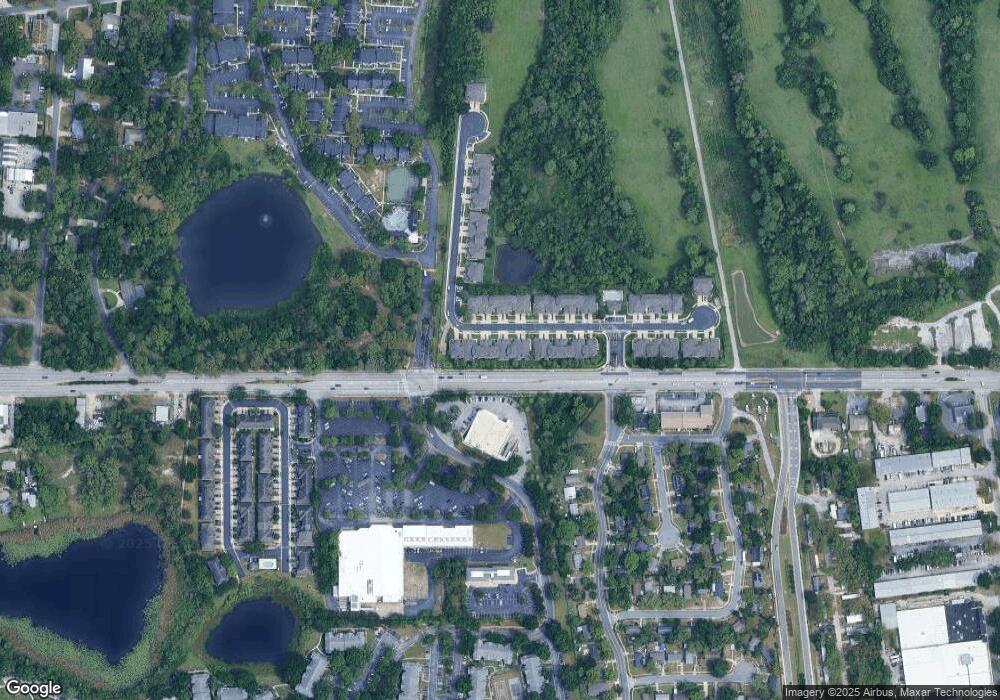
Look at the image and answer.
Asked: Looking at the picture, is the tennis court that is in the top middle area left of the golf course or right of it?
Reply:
left of it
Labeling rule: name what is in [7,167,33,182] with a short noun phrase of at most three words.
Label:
building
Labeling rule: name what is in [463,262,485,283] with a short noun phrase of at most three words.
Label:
house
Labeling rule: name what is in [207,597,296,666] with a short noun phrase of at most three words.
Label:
pond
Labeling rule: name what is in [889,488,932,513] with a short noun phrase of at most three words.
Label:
building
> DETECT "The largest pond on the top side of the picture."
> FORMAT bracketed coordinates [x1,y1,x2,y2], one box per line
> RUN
[494,243,541,284]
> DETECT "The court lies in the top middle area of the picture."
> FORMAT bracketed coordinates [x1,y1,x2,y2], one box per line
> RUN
[388,167,407,201]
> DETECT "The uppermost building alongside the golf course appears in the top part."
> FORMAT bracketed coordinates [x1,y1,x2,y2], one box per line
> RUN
[466,82,486,104]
